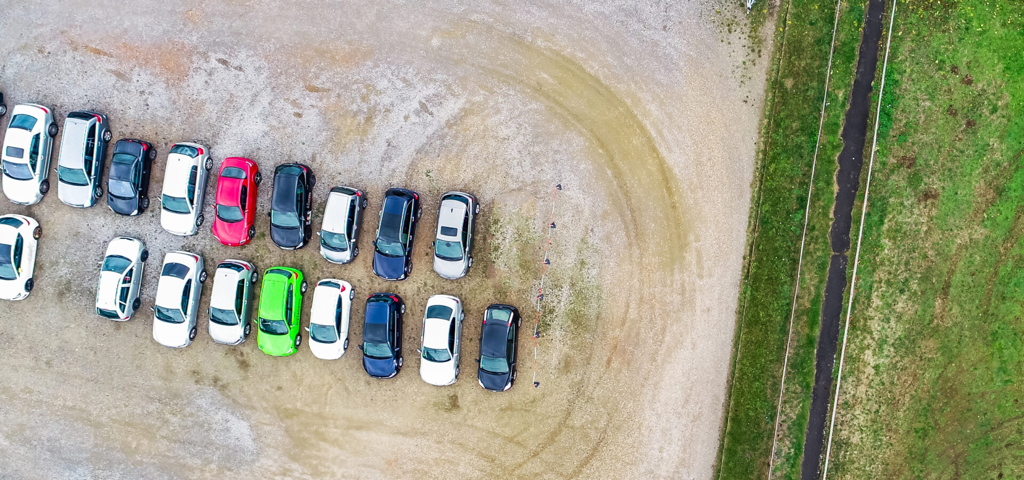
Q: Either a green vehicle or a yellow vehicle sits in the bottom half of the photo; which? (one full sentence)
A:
The feature located in the bottom half of the photo is a green vehicle.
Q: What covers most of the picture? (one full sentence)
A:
The largest share of the image is taken up by paved ground.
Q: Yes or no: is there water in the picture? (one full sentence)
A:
No, the scene doesn't show any water.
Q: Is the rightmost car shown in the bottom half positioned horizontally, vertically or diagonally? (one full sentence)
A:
In this picture, the rightmost car shown in the bottom half lies vertically.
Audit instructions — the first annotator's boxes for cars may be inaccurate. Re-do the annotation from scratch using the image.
[101,137,156,217]
[313,184,367,266]
[208,157,261,248]
[368,188,422,283]
[253,266,307,358]
[154,140,212,237]
[0,104,58,205]
[94,235,148,323]
[413,294,465,388]
[472,304,522,393]
[263,161,316,251]
[356,292,406,380]
[427,190,480,280]
[202,258,258,346]
[302,277,355,361]
[0,213,42,302]
[50,109,111,209]
[148,250,207,349]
